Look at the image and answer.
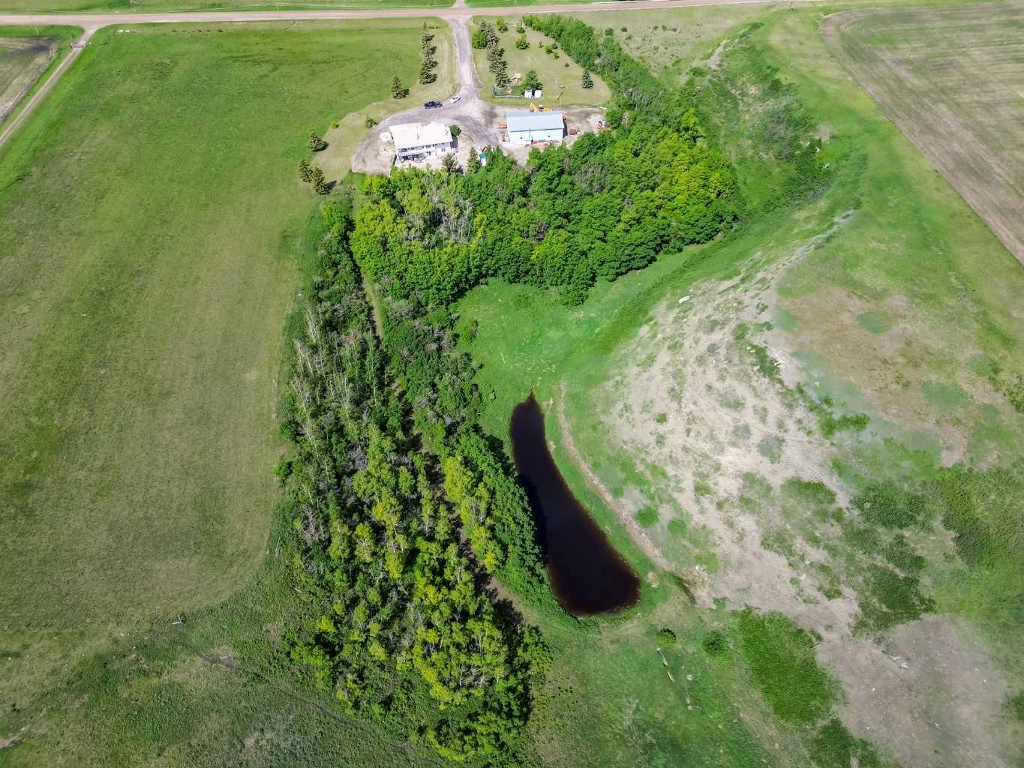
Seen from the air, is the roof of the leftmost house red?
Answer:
No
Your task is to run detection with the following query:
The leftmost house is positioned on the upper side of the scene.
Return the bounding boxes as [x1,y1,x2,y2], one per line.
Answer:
[390,121,453,165]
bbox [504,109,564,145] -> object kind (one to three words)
shed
